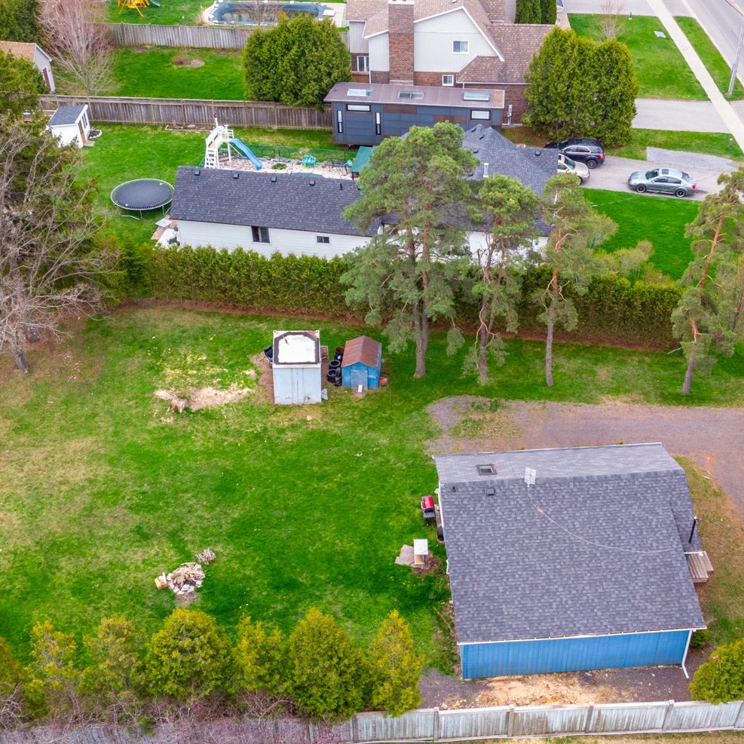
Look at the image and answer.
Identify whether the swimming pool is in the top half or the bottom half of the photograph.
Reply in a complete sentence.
You can find the swimming pool in the top half.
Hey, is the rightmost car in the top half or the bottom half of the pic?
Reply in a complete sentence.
You can find the rightmost car in the top half.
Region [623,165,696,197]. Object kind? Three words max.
car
